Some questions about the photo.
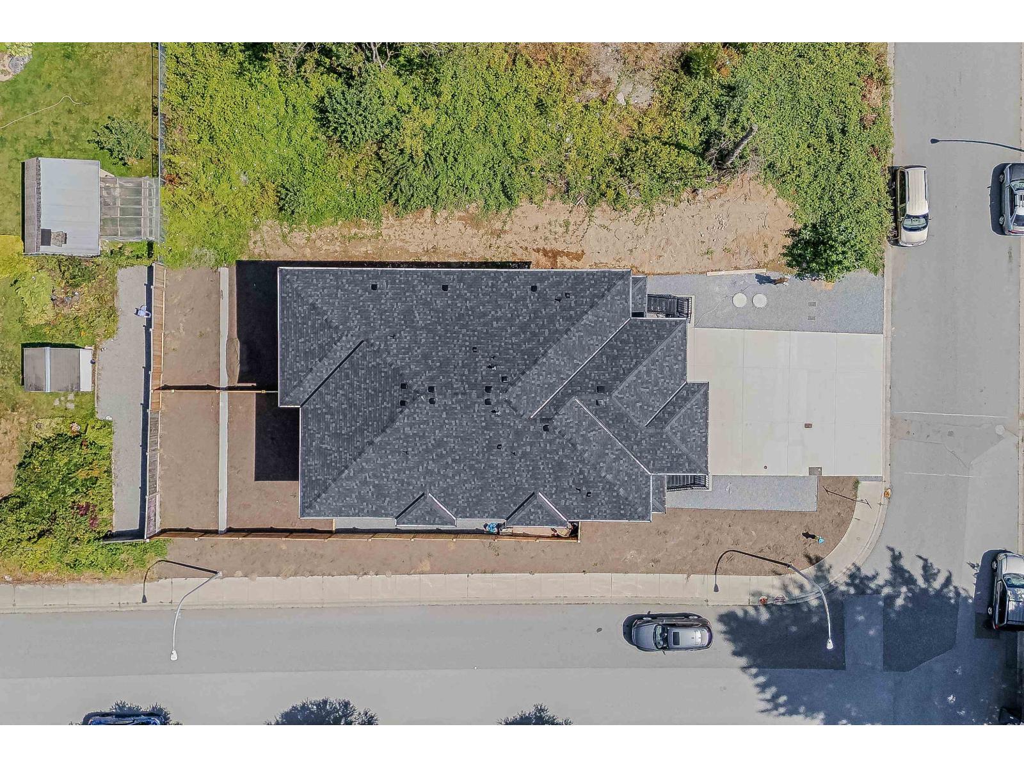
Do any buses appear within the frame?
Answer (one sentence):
No, the picture doesn't show any bus.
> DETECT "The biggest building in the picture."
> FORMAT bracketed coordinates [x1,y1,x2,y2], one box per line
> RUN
[276,264,711,530]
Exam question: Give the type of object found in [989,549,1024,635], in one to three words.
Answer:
car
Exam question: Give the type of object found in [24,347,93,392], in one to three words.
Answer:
shed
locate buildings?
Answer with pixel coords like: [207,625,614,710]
[24,155,114,260]
[24,347,93,392]
[276,264,711,530]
